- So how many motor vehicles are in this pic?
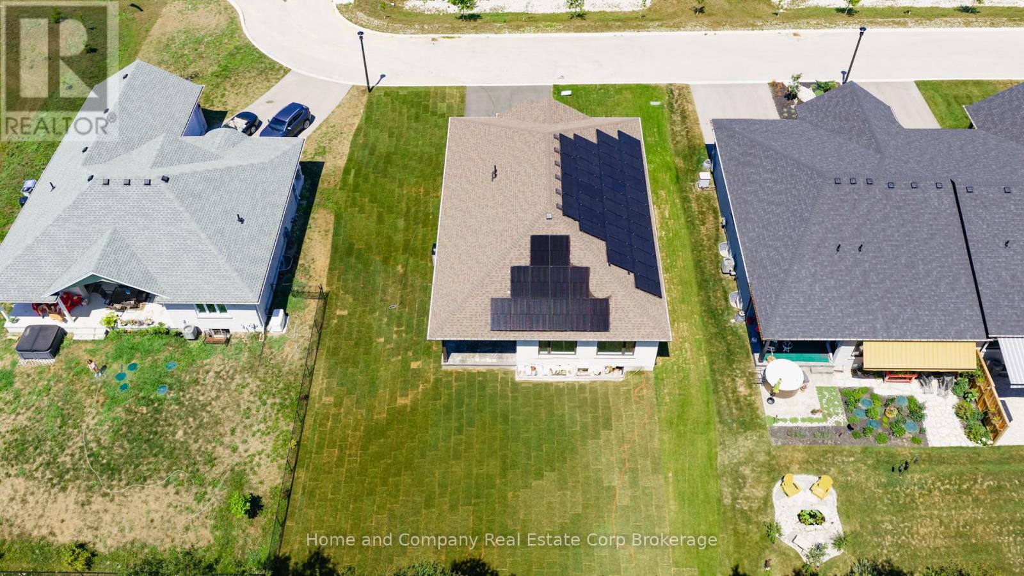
2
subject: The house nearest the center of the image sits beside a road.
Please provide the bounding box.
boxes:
[425,98,673,370]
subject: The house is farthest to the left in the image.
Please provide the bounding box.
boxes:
[0,62,307,345]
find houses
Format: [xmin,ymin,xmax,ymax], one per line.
[710,80,990,370]
[425,98,673,370]
[0,62,307,345]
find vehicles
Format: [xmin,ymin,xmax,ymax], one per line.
[230,108,272,137]
[255,102,313,138]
